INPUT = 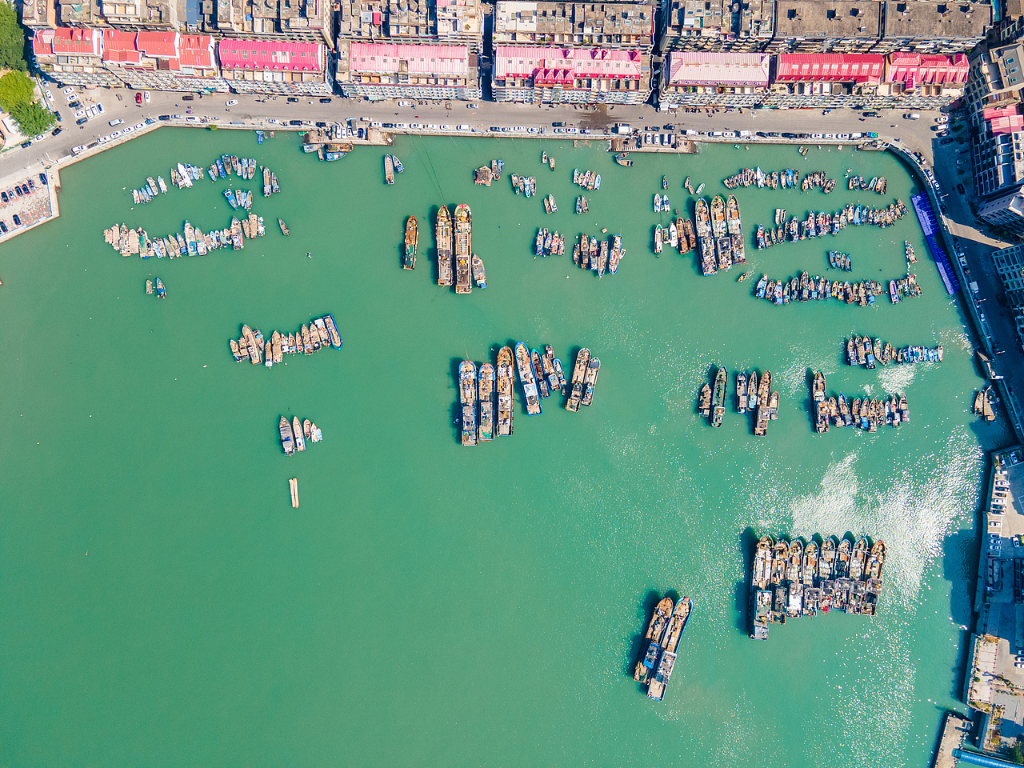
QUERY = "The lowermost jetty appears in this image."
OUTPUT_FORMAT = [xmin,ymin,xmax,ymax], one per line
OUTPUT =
[930,714,970,768]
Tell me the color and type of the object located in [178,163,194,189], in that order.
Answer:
white boat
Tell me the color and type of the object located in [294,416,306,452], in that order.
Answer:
white boat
